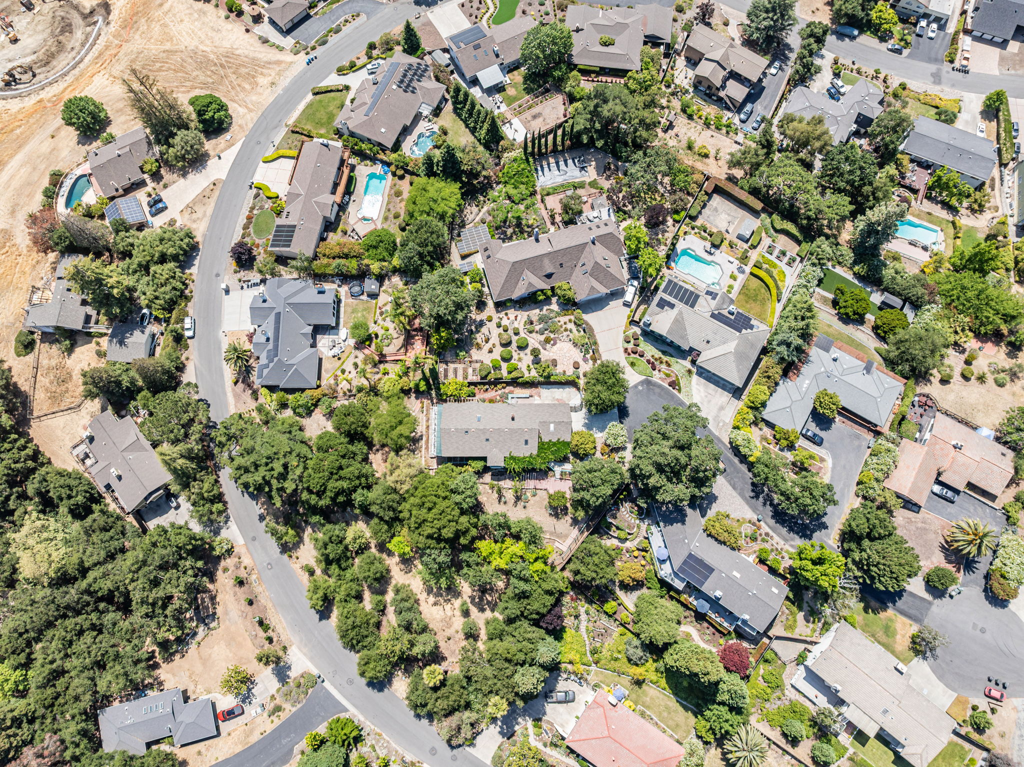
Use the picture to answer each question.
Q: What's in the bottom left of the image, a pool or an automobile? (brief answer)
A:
automobile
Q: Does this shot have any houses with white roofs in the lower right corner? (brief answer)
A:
Yes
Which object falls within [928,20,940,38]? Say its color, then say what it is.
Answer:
white vehicle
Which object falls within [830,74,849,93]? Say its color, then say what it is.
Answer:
white vehicle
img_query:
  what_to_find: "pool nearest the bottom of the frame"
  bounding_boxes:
[673,247,724,292]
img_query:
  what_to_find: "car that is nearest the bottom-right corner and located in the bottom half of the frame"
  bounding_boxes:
[986,688,1009,702]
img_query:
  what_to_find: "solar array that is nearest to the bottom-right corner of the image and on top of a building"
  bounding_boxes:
[676,553,714,580]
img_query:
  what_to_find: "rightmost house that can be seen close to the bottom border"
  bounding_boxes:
[810,620,956,767]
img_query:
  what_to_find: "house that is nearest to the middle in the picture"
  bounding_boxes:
[439,403,572,468]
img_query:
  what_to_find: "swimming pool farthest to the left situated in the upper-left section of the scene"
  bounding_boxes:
[62,173,94,212]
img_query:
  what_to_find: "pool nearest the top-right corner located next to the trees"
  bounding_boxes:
[902,218,940,250]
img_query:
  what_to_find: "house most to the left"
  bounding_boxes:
[24,253,91,332]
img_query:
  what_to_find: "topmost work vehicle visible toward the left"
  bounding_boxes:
[0,20,21,43]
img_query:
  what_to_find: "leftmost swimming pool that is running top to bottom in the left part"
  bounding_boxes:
[355,166,388,225]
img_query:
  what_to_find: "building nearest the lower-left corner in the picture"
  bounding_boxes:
[100,688,220,765]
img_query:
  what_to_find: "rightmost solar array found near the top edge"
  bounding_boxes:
[448,24,487,48]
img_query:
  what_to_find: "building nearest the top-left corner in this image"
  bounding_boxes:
[88,130,158,199]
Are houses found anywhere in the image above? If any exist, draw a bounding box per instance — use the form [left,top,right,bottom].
[264,0,310,35]
[100,688,220,765]
[564,689,682,767]
[683,24,769,100]
[24,253,91,332]
[107,322,156,363]
[88,130,158,199]
[81,410,177,512]
[247,278,336,389]
[810,620,956,767]
[880,413,1014,506]
[268,139,342,261]
[653,501,789,633]
[780,78,884,150]
[898,115,999,184]
[439,403,572,468]
[445,15,534,89]
[479,219,627,304]
[641,275,768,388]
[761,339,907,434]
[565,0,673,77]
[886,0,955,26]
[333,50,447,154]
[968,0,1024,48]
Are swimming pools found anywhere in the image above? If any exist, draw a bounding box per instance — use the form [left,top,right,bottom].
[62,173,94,212]
[673,247,724,292]
[355,166,388,225]
[408,129,438,159]
[902,218,940,250]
